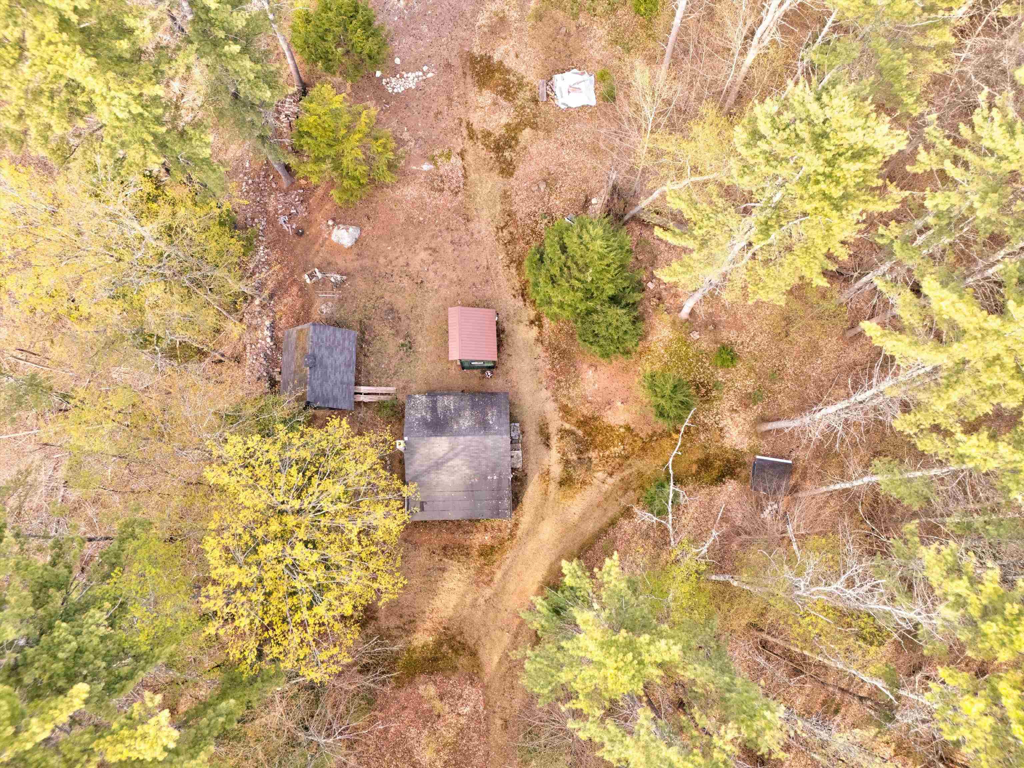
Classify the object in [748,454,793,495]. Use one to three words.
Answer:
shed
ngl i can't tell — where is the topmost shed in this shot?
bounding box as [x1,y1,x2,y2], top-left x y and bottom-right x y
[448,305,502,367]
